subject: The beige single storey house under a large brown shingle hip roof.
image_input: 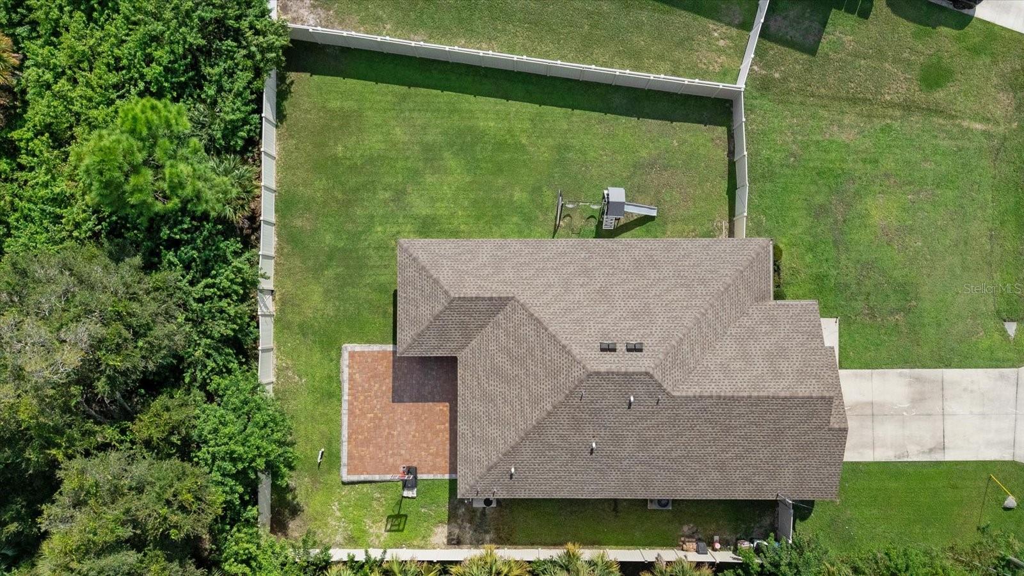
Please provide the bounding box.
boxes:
[396,237,852,500]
